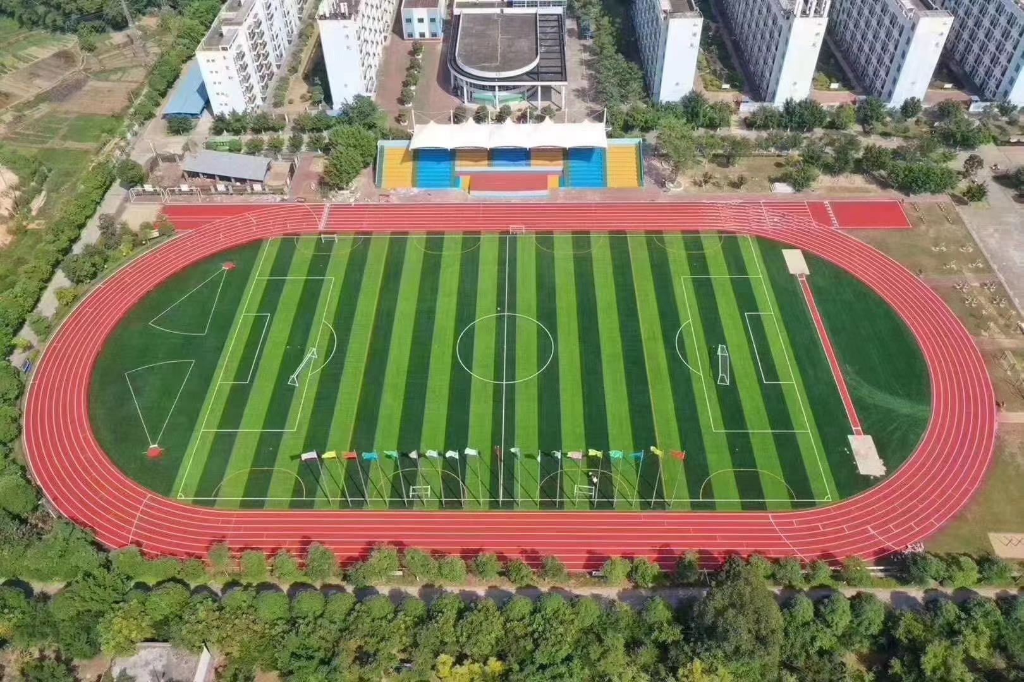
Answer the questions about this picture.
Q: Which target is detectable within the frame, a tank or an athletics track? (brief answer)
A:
athletics track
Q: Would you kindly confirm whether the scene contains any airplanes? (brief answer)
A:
No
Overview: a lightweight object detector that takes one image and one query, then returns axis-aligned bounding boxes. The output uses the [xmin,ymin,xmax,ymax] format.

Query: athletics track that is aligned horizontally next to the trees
[24,200,994,570]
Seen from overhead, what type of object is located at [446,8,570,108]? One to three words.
building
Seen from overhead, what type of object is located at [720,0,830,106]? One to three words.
building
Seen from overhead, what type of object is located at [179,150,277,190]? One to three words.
shed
